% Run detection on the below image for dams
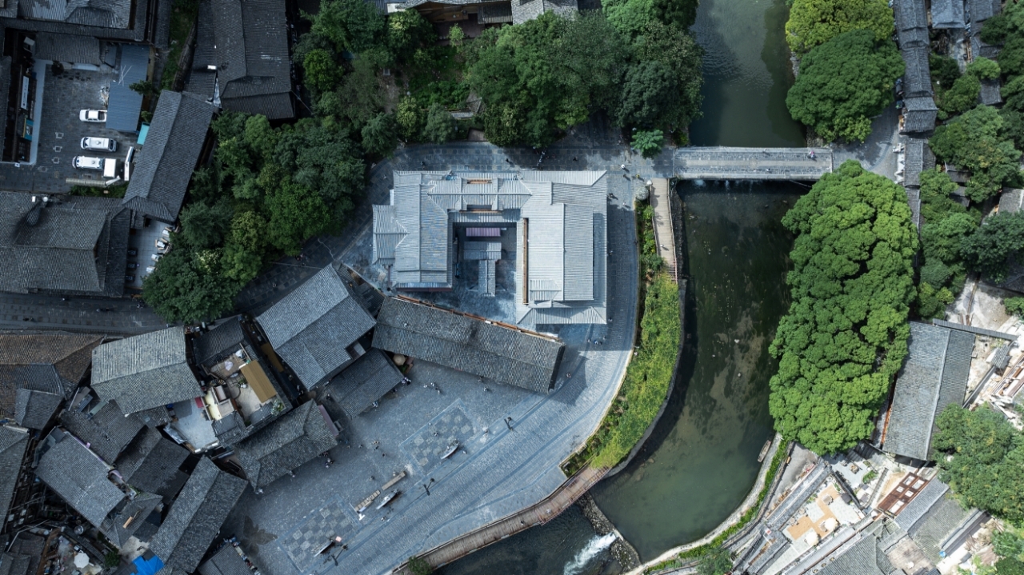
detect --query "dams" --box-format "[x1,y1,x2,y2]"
[575,490,639,570]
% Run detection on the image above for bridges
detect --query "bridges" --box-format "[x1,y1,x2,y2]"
[673,144,834,178]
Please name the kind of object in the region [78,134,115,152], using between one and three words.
vehicle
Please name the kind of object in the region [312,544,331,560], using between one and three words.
boat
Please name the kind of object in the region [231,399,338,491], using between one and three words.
house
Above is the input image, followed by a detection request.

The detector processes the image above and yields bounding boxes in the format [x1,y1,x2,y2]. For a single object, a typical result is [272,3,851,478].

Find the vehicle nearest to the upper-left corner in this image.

[76,106,107,123]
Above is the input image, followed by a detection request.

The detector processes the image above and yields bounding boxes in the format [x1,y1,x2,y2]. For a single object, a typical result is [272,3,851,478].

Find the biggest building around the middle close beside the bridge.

[372,169,607,325]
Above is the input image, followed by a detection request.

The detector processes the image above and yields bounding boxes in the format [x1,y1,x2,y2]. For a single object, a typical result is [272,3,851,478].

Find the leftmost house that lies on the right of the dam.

[755,462,833,532]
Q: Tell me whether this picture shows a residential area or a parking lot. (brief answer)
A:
residential area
